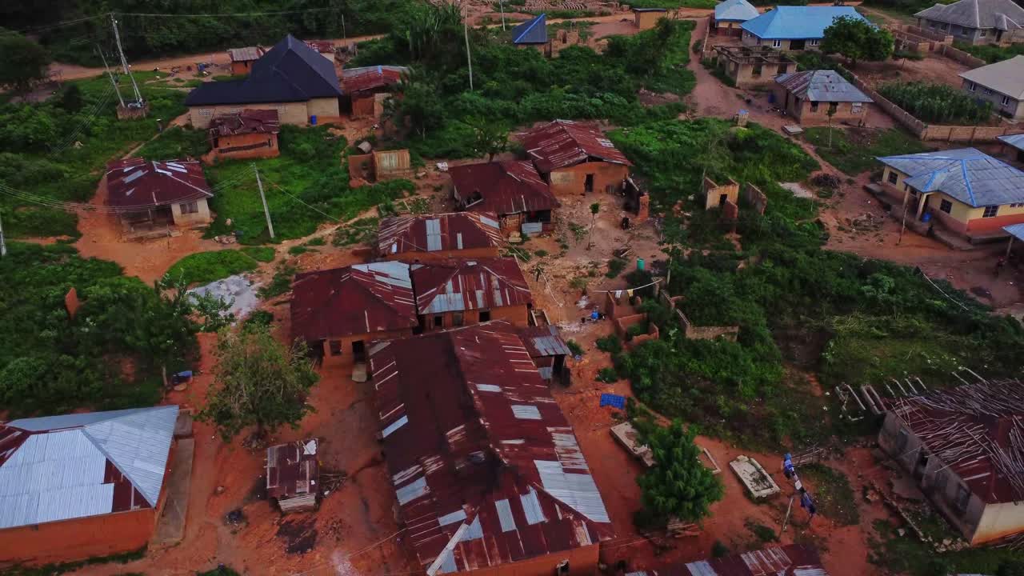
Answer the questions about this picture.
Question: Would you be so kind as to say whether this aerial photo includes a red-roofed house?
Yes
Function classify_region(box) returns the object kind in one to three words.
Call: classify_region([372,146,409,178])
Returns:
shed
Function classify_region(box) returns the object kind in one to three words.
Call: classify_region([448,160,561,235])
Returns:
house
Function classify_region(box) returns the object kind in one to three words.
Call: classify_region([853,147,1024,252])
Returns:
house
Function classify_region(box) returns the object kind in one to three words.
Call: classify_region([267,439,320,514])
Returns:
shed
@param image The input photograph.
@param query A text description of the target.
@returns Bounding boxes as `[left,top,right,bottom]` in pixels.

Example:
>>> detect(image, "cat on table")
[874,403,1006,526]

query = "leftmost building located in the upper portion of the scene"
[105,160,213,243]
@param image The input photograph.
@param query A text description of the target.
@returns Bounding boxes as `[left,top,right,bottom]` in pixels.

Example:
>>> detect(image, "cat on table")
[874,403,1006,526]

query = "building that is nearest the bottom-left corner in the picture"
[0,405,179,563]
